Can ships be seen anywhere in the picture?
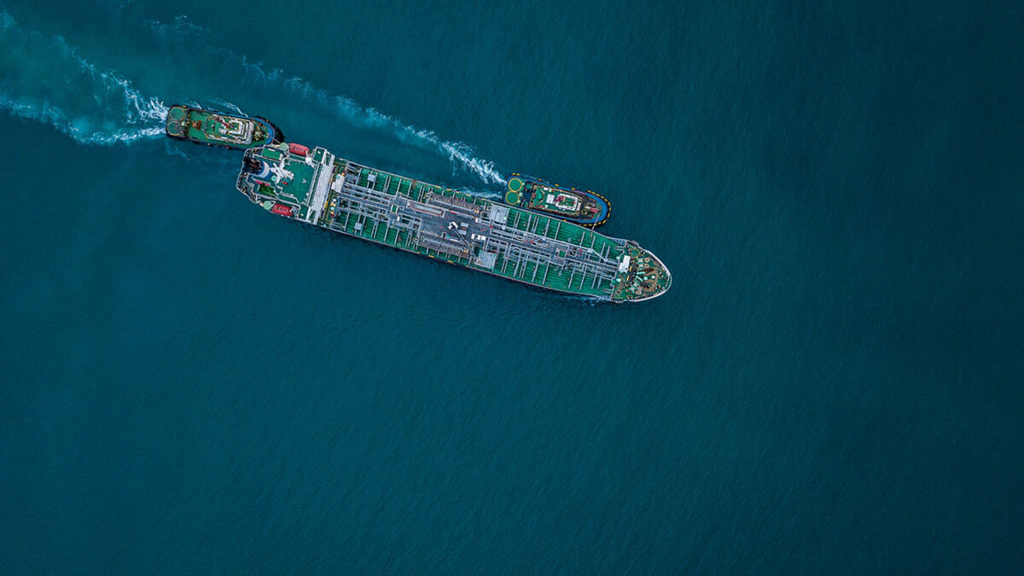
Yes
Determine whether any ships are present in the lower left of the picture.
No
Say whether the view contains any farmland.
No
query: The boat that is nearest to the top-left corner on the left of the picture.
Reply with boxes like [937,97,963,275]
[165,105,284,153]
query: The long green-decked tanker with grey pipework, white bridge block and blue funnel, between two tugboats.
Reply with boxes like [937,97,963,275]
[235,143,671,302]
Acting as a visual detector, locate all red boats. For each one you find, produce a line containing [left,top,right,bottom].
[274,206,294,216]
[290,145,310,156]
